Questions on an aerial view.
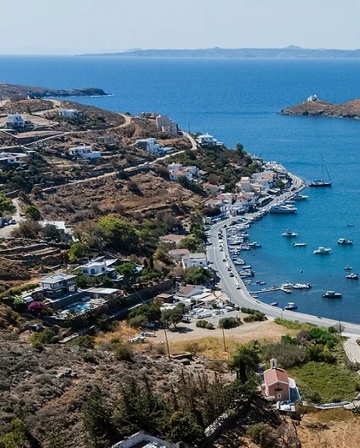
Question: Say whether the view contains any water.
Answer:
Yes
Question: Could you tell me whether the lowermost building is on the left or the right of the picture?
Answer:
right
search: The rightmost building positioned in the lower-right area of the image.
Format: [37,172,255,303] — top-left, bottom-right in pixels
[268,355,295,401]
